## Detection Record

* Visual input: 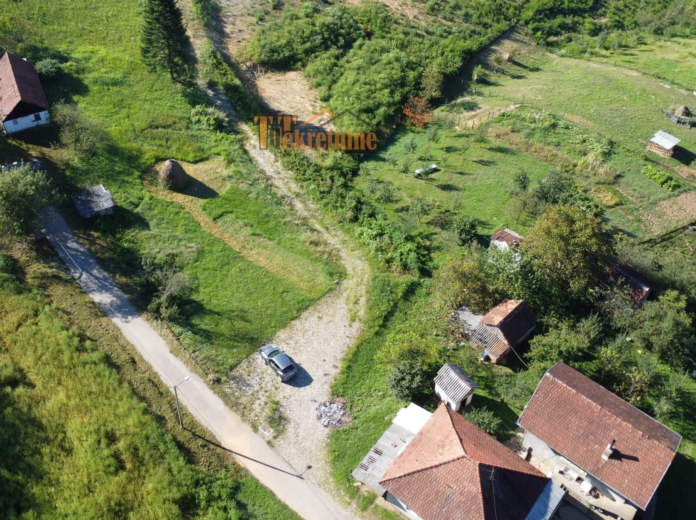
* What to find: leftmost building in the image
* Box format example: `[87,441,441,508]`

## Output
[0,53,49,131]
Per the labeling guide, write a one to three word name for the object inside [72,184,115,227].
shed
